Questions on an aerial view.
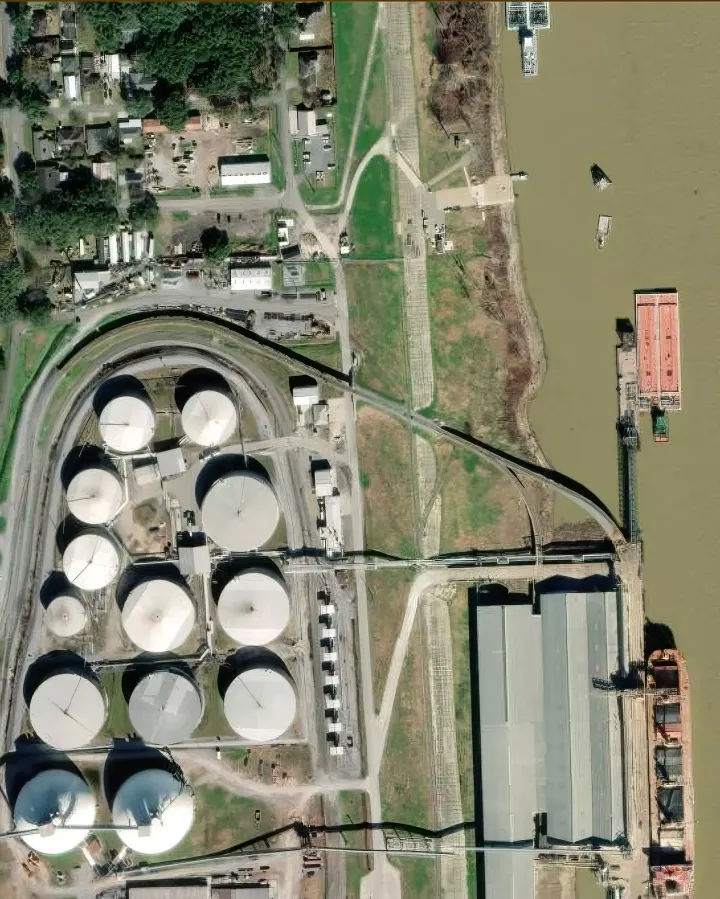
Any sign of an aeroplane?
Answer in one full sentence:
No, there is no aeroplane in the image.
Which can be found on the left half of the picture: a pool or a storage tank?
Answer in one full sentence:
Looking on the left half of the picture, you will find a storage tank.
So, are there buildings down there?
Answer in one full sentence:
Yes, the image includes a building.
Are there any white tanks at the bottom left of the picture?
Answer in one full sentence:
Yes, looking at the bottom left of the picture, one can make out a white tank.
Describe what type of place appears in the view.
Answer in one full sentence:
What you see here is a port.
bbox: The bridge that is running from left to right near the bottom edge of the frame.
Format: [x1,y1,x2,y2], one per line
[535,851,612,865]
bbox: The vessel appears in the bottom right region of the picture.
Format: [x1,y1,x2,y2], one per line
[649,647,694,899]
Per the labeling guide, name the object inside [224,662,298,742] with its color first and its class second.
white storage tank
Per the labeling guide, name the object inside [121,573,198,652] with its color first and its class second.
white storage tank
